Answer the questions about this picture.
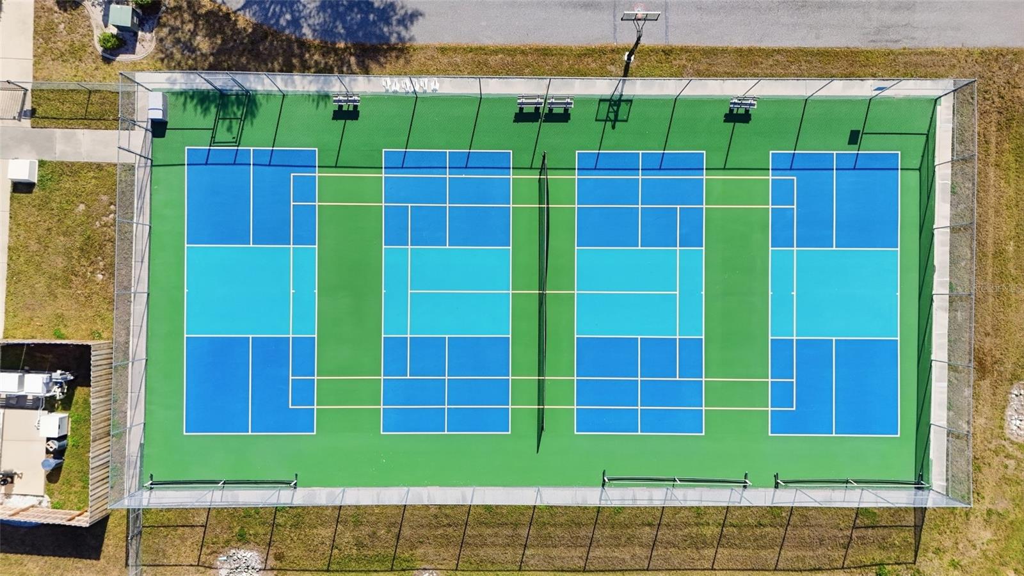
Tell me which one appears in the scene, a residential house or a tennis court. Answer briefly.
tennis court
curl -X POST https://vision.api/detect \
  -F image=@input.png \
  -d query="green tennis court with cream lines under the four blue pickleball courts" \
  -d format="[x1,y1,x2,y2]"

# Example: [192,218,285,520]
[144,89,936,488]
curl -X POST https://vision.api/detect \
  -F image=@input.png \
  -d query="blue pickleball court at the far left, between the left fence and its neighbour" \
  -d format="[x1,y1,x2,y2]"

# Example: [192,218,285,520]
[184,147,317,434]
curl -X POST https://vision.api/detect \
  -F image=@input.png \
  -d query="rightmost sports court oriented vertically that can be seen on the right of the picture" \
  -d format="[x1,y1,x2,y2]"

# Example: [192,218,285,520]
[770,151,900,436]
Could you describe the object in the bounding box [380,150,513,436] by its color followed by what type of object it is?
blue sports court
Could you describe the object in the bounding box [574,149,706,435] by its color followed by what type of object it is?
blue sports court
